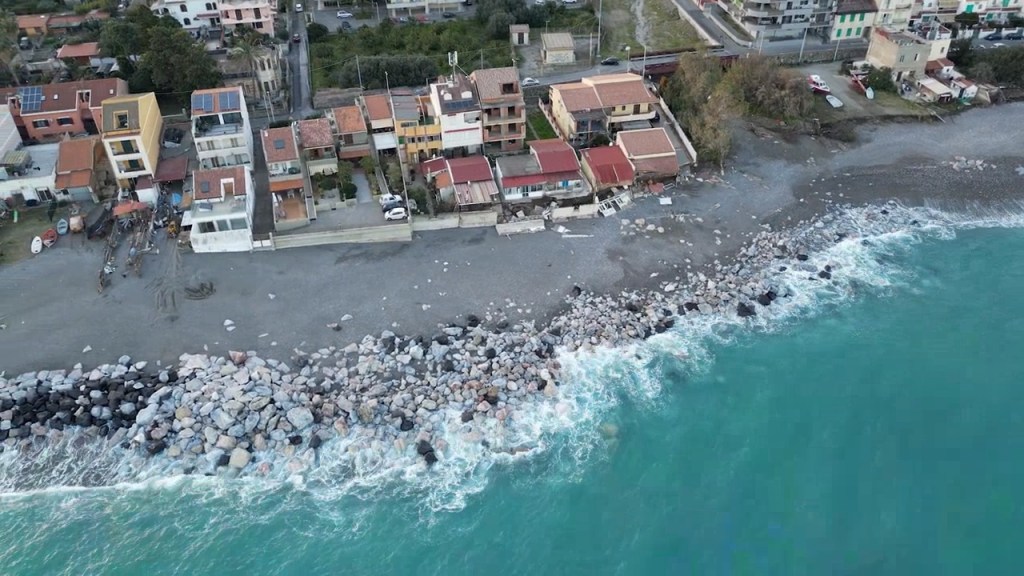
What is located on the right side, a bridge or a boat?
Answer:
boat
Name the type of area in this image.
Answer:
residential area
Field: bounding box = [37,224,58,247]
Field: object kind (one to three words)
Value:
boat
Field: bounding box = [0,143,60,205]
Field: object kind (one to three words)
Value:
building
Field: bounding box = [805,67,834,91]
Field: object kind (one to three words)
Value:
boat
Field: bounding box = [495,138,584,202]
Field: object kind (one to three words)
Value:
house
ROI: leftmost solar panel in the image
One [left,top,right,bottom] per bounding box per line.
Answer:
[18,87,45,110]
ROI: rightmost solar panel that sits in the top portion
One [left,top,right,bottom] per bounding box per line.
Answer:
[447,97,475,109]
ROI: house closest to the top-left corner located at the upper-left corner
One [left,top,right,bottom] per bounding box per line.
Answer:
[17,12,53,41]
